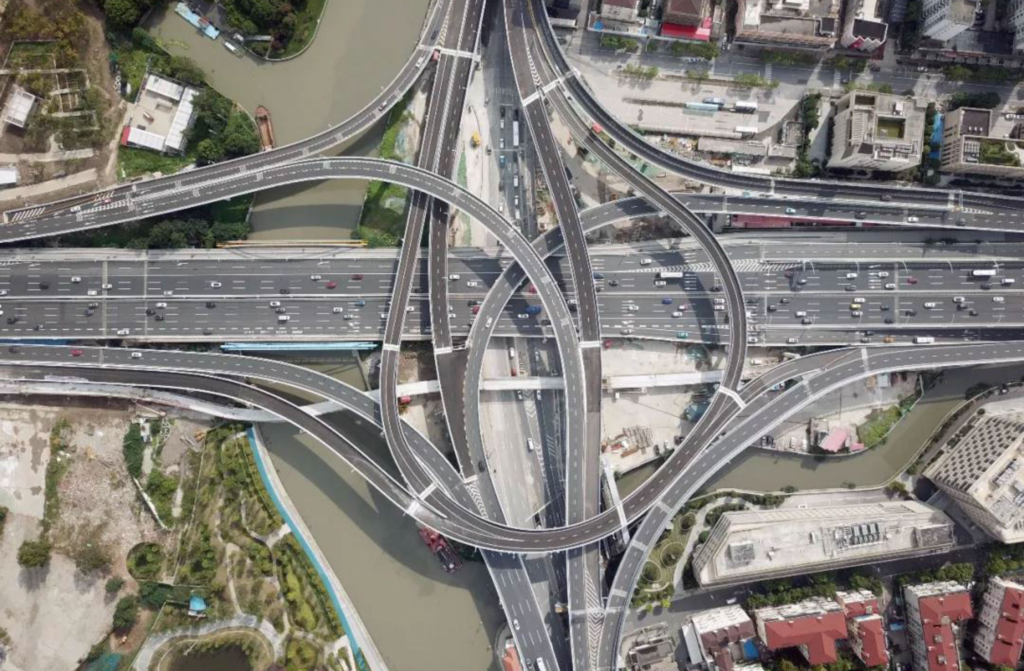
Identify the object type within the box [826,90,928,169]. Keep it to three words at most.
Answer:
building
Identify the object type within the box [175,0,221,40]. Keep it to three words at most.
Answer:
vessel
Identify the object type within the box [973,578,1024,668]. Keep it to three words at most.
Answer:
house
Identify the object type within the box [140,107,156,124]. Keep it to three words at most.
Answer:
vehicle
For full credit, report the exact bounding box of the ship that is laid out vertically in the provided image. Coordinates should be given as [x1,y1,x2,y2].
[257,104,275,151]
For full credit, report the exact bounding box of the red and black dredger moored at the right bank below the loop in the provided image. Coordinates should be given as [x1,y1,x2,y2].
[420,527,460,576]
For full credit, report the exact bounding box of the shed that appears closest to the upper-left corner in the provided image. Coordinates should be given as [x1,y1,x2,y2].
[4,89,39,128]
